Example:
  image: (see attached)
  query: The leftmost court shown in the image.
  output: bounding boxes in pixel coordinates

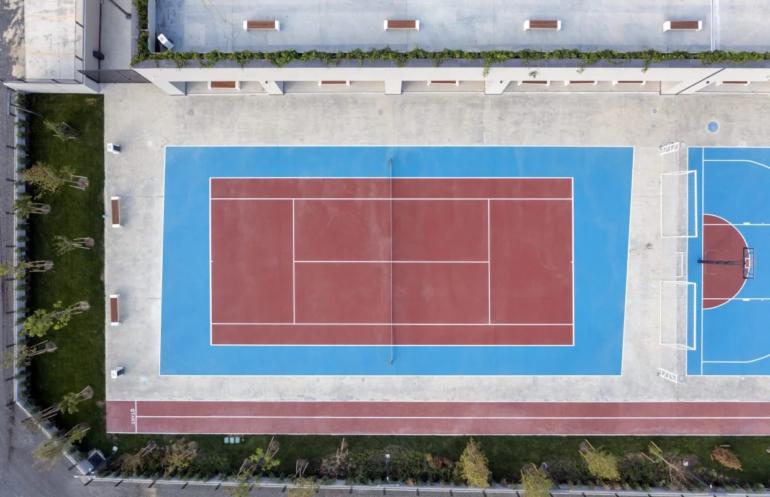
[159,146,634,376]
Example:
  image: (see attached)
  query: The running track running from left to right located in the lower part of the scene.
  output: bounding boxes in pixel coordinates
[107,401,770,436]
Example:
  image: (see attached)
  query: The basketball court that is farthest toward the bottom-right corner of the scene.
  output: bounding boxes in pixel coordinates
[676,147,770,377]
